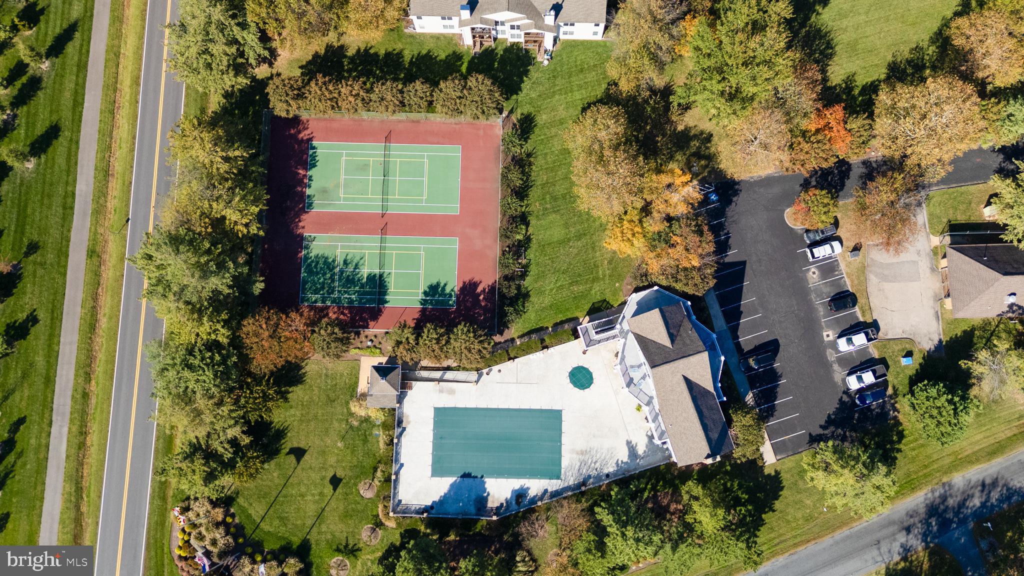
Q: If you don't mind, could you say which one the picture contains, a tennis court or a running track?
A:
tennis court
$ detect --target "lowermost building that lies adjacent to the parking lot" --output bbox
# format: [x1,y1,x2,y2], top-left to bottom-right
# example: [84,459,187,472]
[613,287,735,468]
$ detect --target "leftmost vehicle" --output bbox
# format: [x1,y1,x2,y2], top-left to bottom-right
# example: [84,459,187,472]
[739,350,778,372]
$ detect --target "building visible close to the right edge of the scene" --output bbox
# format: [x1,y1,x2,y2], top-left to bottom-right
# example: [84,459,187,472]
[946,244,1024,318]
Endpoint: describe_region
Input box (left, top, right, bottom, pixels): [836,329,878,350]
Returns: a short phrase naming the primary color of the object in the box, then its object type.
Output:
white truck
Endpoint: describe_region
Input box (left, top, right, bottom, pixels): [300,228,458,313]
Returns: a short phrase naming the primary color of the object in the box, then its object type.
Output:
green tennis court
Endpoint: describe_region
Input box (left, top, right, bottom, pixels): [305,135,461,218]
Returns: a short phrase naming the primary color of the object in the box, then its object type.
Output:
green tennis court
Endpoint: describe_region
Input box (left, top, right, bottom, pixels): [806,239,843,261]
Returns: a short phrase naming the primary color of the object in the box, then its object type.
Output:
white car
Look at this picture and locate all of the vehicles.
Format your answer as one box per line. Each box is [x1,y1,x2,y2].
[806,239,843,261]
[739,350,778,372]
[827,294,858,312]
[801,225,839,243]
[836,329,878,350]
[845,366,888,387]
[853,387,889,405]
